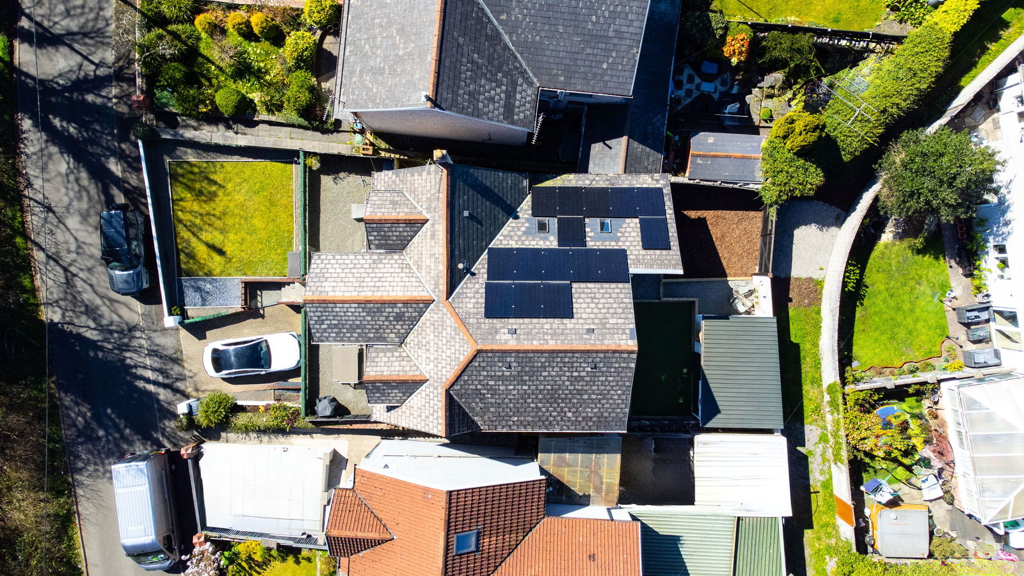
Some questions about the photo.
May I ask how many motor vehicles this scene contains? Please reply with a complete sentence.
The count of motor vehicles comes to 3.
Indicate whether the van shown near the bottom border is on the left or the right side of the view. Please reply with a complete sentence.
The van shown near the bottom border sits on the left side.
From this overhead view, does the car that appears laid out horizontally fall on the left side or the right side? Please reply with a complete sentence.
It is on the left.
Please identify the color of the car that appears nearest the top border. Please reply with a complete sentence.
The car that appears nearest the top border is black.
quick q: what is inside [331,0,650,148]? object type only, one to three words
house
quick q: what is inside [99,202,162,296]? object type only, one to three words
car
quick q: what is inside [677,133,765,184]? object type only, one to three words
shed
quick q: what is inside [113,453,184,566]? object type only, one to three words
van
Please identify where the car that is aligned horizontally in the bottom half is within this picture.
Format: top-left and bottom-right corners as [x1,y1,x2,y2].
[203,330,300,376]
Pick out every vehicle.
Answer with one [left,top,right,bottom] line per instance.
[203,330,300,376]
[99,202,162,296]
[113,453,184,566]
